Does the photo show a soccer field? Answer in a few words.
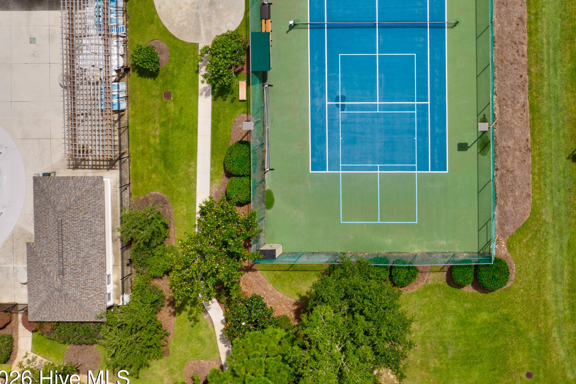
No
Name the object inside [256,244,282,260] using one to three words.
shed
